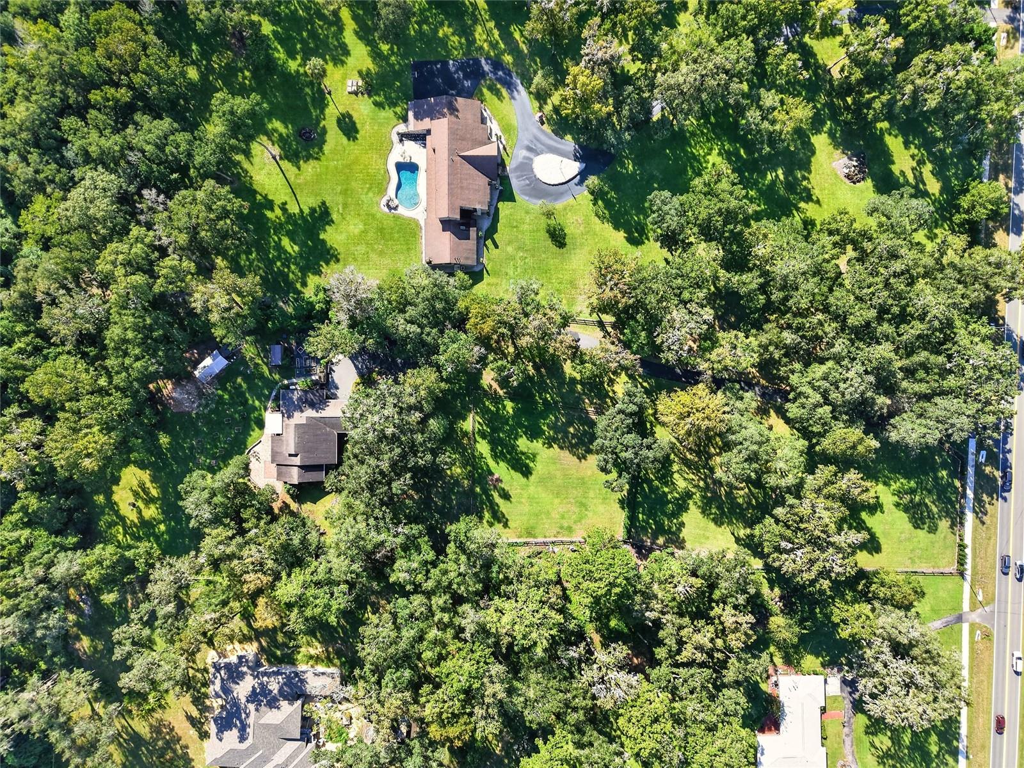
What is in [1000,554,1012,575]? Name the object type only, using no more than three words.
vehicle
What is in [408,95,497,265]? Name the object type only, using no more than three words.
house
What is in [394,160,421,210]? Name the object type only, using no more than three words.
swimming pool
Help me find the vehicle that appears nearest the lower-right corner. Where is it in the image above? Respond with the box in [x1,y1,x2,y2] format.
[994,714,1006,733]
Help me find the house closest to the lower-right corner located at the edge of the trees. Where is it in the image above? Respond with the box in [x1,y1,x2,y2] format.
[754,671,827,768]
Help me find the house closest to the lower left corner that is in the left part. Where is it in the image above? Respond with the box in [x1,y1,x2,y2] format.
[205,653,342,768]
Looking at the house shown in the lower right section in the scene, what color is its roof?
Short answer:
white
